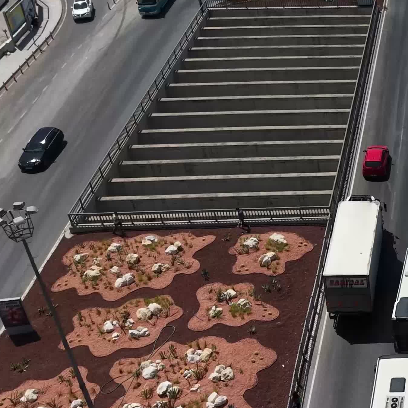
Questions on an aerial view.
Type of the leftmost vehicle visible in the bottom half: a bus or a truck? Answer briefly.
truck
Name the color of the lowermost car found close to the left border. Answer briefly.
black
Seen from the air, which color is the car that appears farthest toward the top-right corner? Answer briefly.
red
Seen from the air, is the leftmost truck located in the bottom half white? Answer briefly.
Yes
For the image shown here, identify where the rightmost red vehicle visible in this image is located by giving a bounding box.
[364,145,391,177]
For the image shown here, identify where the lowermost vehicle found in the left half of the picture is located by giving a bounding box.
[19,129,63,167]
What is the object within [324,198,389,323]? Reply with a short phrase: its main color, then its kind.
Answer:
white truck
